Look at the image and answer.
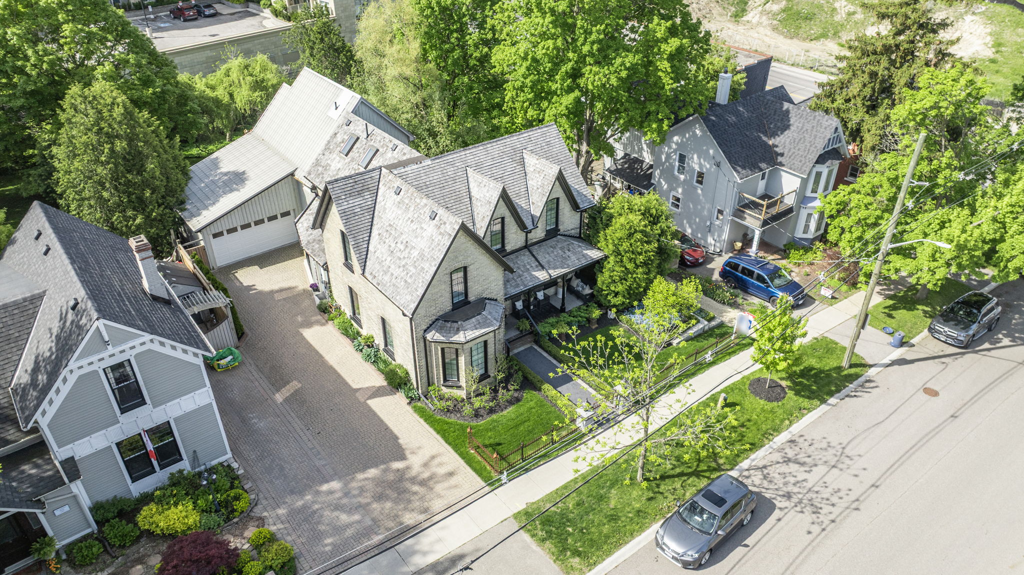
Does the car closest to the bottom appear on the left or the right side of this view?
right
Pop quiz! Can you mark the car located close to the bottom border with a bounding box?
[652,473,760,567]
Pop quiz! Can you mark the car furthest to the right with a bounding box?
[930,288,1006,348]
